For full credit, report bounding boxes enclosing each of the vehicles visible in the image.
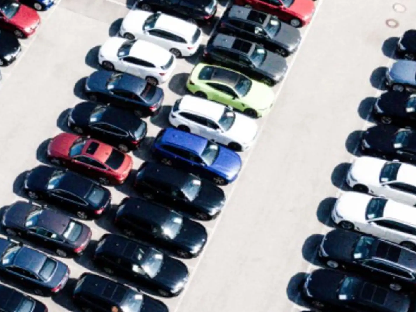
[0,283,52,312]
[231,0,314,27]
[319,230,416,292]
[371,89,416,129]
[0,27,22,68]
[397,27,416,58]
[80,70,168,120]
[119,10,201,58]
[200,31,286,87]
[359,122,416,167]
[165,93,258,153]
[103,41,182,87]
[333,191,416,250]
[0,237,74,300]
[66,102,147,153]
[0,201,94,260]
[384,57,416,90]
[68,270,171,312]
[20,165,113,222]
[348,157,416,209]
[213,3,302,57]
[147,125,240,187]
[302,268,415,312]
[0,0,43,40]
[110,196,207,260]
[41,133,133,187]
[127,159,226,223]
[90,231,189,299]
[137,0,215,26]
[183,62,272,118]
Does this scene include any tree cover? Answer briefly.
No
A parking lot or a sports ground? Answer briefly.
parking lot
